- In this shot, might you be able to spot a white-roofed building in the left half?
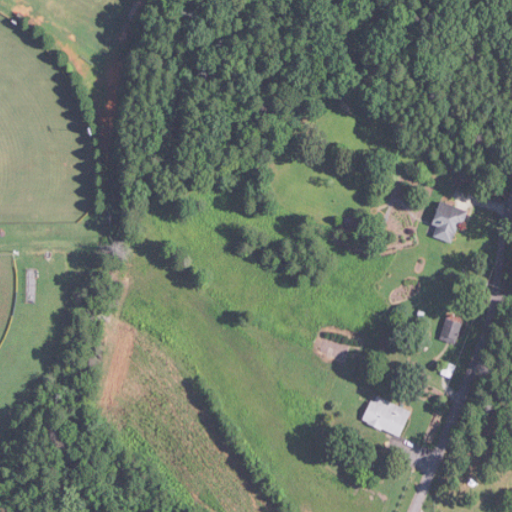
No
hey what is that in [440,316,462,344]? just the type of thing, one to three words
house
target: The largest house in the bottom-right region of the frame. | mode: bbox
[362,400,411,438]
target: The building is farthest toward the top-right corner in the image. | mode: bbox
[431,202,466,242]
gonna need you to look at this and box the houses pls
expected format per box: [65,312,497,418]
[431,202,466,242]
[362,400,411,438]
[440,316,462,344]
